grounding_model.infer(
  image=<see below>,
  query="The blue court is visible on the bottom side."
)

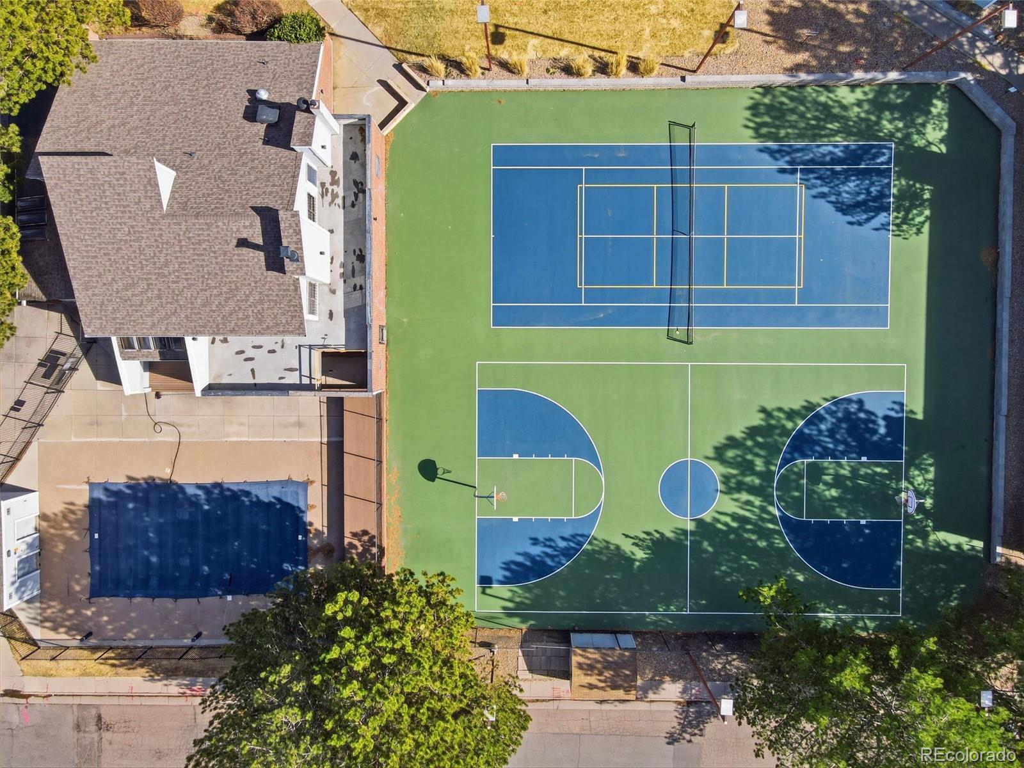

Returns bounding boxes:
[476,362,906,616]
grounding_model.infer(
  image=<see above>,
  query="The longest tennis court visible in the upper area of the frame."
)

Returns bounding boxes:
[491,143,893,329]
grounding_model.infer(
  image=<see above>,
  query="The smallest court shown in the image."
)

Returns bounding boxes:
[577,184,804,288]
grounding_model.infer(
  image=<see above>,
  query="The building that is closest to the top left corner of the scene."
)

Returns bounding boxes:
[26,39,386,400]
